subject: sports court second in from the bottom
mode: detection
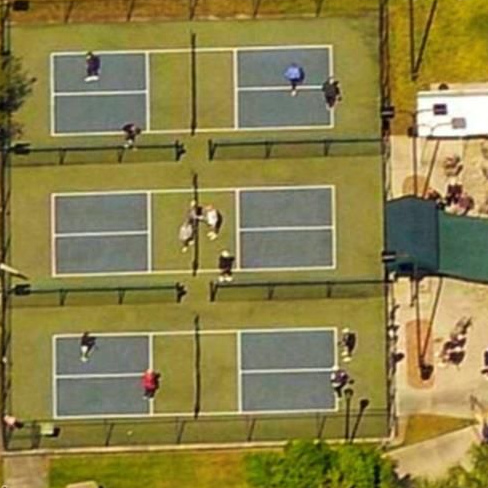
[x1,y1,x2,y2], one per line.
[4,154,388,306]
